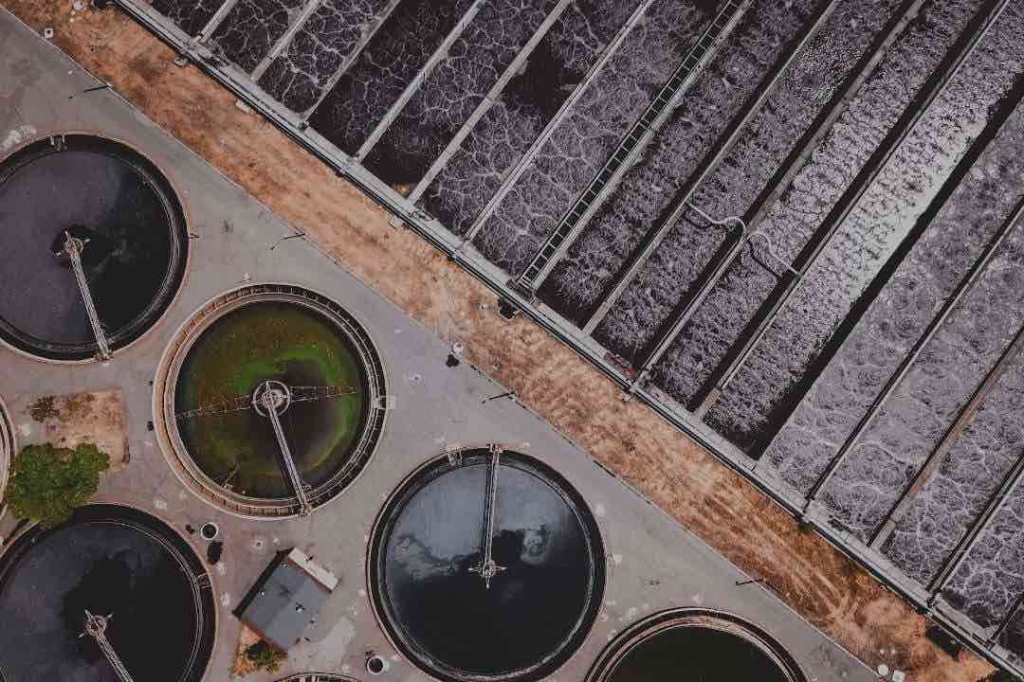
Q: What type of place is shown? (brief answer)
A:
industrial area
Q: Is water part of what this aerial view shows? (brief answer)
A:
Yes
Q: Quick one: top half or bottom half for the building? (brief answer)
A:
bottom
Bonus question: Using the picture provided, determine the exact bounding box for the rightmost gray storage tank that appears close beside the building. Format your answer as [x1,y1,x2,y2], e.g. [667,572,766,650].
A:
[367,445,606,682]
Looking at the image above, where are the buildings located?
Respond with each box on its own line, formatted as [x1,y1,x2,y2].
[239,546,340,651]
